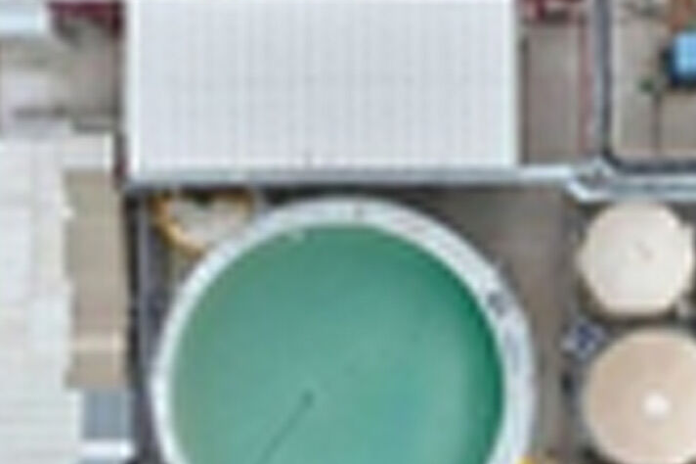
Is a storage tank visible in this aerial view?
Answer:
Yes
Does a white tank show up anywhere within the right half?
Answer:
Yes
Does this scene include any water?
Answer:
Yes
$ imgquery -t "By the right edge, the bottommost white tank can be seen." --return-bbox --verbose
[578,324,696,464]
